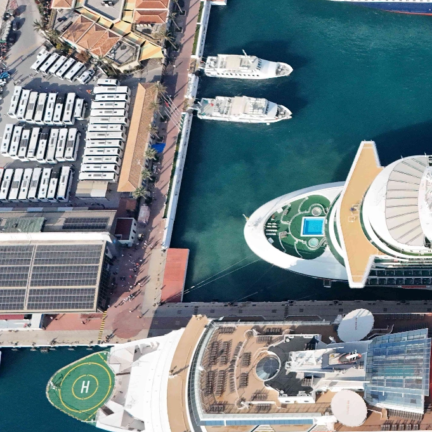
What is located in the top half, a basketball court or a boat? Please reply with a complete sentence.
Visible in the top half is a boat.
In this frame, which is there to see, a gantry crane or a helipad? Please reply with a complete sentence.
The one in the frame is a helipad.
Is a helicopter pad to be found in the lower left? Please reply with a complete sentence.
Yes, a helicopter pad shows up in the lower left.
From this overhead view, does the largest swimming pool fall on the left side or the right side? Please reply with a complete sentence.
The largest swimming pool sits on the right side.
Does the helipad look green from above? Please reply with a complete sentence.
Yes, the helipad is green.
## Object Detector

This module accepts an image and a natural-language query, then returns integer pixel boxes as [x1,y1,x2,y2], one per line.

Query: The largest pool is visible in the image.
[301,217,326,237]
